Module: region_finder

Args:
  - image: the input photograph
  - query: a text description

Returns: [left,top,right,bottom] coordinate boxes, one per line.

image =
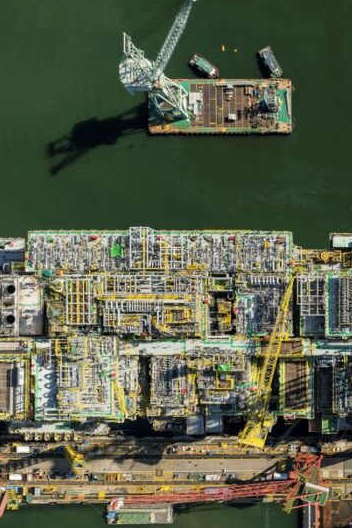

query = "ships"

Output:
[148,79,293,135]
[0,227,352,440]
[107,497,173,525]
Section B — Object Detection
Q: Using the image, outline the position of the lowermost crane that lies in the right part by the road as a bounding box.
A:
[110,451,337,512]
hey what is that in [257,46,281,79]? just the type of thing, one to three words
boat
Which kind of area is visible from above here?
port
